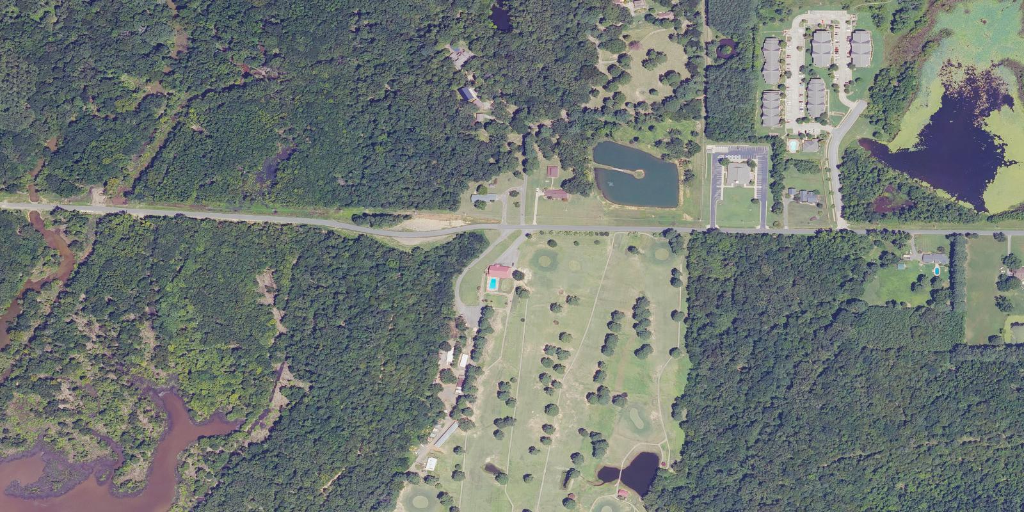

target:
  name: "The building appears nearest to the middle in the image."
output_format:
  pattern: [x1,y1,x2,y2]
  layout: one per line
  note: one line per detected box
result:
[488,263,512,278]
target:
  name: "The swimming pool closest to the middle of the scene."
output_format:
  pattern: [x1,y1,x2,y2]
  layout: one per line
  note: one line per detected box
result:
[487,277,499,292]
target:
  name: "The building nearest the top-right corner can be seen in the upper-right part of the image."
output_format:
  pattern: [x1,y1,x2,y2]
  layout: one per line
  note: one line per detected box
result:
[852,29,872,68]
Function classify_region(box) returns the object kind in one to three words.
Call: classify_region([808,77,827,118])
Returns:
building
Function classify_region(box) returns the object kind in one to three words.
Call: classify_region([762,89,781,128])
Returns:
building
